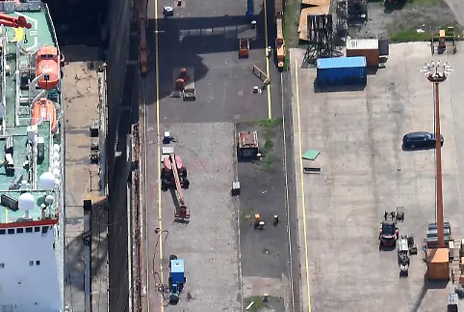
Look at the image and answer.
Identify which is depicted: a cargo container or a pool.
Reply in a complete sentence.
Visible in the photo is a cargo container.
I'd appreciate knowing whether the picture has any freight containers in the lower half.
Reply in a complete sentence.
No, no freight container appears in the lower half.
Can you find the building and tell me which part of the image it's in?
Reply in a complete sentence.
The building sits in the bottom right section of the image.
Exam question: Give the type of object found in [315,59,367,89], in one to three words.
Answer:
shipping container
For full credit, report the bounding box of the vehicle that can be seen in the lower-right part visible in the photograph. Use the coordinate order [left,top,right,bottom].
[379,210,397,245]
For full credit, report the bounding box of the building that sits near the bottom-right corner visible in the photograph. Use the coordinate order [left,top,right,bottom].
[426,248,450,279]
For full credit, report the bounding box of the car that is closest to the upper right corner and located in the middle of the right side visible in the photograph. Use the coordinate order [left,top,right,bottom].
[404,130,434,148]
